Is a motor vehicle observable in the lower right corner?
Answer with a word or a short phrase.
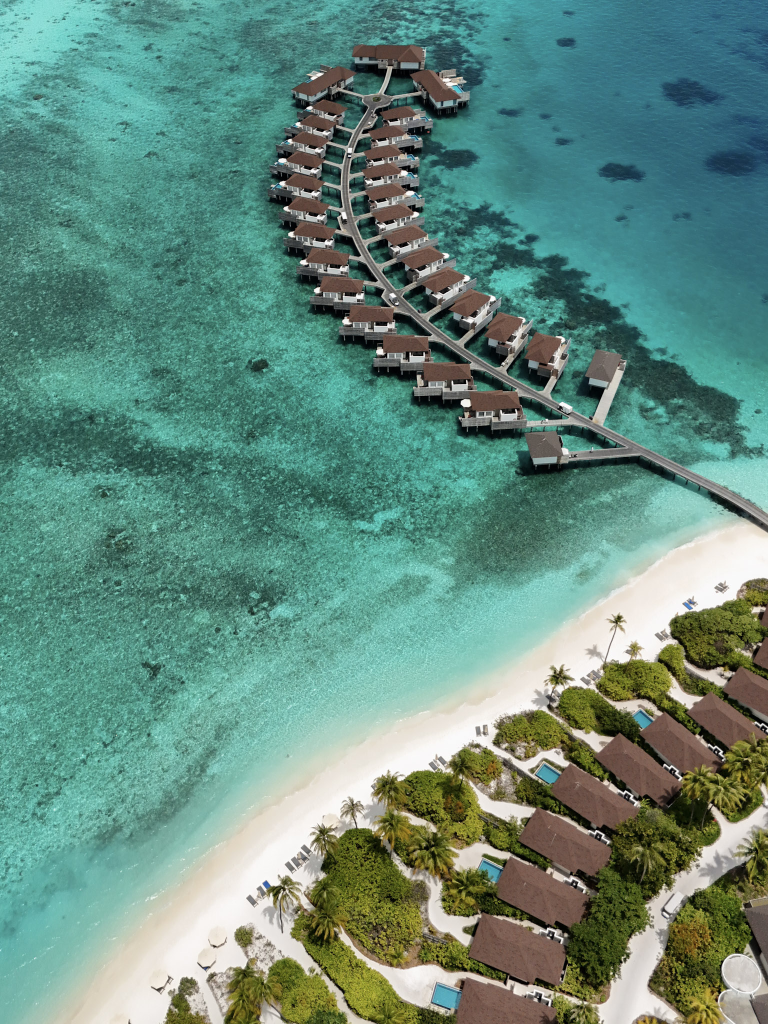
Yes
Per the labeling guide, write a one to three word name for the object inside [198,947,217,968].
umbrella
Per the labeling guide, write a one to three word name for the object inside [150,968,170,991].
umbrella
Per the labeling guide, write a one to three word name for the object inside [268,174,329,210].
house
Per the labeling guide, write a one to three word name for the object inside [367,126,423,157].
house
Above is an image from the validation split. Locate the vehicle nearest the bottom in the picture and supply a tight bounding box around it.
[661,889,687,921]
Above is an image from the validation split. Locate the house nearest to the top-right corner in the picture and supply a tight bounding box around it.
[409,67,471,122]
